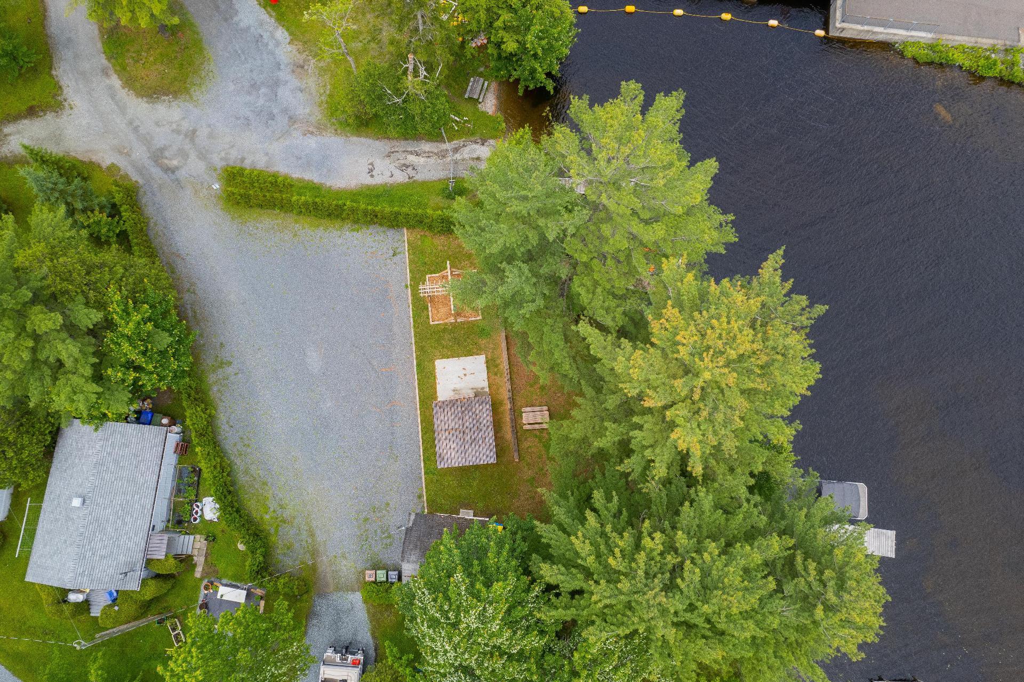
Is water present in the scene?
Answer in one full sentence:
Yes, water can be seen from above here.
